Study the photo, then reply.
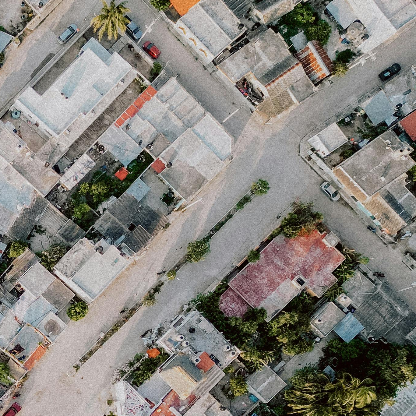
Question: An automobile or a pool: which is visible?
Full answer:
Looking from above, you can make out an automobile.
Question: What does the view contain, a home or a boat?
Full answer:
The one in the frame is a home.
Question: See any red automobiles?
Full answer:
Yes, the frame does contain a red automobile.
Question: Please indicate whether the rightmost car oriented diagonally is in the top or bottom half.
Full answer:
The rightmost car oriented diagonally is in the top half of the image.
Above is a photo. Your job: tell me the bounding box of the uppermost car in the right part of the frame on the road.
[375,61,402,84]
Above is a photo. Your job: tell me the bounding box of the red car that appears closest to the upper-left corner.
[141,40,162,61]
